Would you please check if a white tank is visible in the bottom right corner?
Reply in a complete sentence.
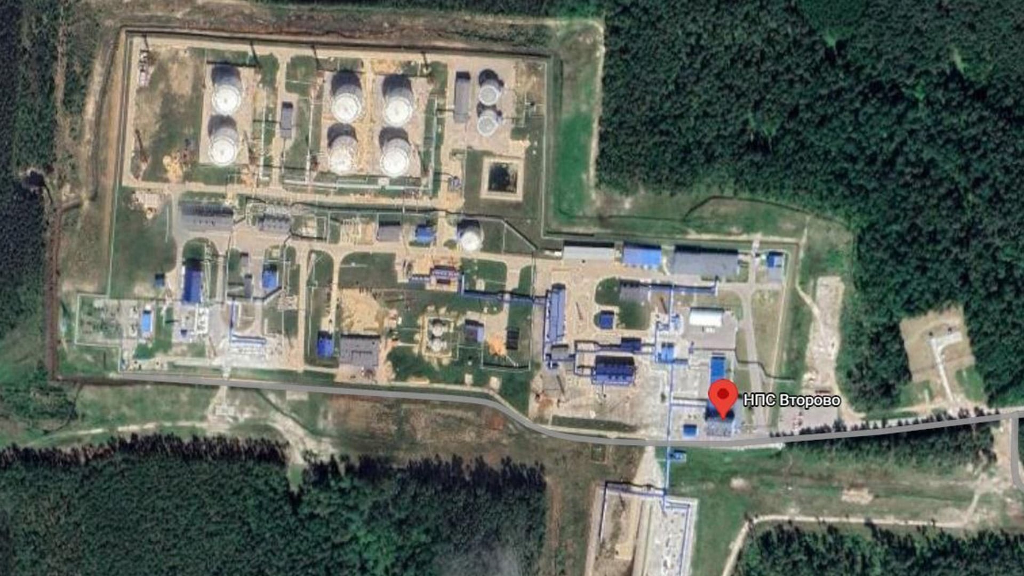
No, in the bottom right corner there is no white tank.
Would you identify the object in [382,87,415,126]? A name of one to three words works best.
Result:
storage tank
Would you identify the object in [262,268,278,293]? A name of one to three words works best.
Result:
shed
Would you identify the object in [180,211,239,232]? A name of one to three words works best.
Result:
building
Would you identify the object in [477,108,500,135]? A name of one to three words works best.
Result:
water tank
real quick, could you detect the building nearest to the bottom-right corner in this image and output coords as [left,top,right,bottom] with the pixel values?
[706,413,734,437]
